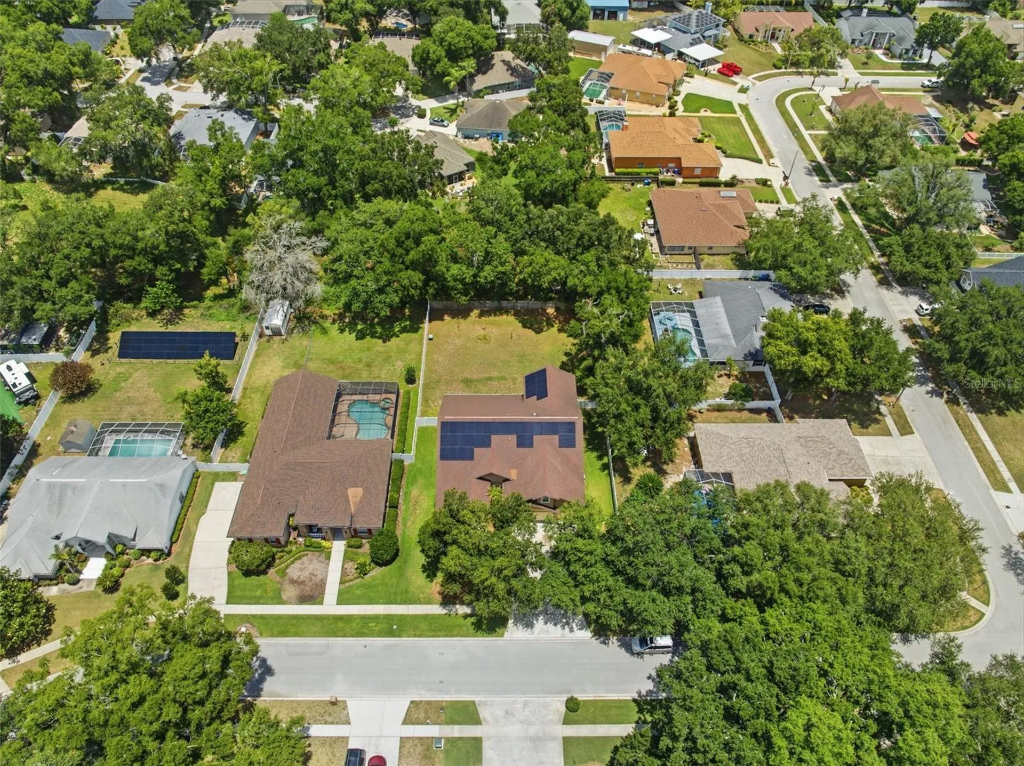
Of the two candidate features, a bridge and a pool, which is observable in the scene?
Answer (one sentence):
Looking from above, you can make out a pool.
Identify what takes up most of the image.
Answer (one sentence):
The bulk of the photo consists of trees.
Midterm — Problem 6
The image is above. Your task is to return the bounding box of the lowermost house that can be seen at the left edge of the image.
[0,450,196,585]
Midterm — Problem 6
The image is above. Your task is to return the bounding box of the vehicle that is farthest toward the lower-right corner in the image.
[630,636,675,657]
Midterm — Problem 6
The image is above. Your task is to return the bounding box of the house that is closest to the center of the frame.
[435,365,586,520]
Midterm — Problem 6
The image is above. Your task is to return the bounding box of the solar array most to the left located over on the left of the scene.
[118,333,235,362]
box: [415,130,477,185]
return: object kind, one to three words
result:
house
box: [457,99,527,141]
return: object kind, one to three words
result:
building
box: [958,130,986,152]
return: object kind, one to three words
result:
gazebo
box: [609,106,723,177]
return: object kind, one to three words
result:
house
